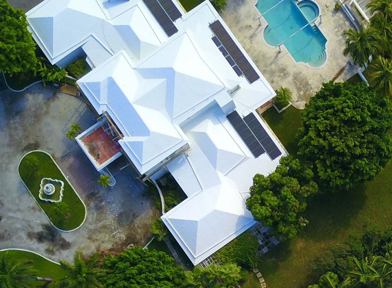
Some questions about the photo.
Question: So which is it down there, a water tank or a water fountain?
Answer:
water fountain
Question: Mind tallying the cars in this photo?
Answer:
0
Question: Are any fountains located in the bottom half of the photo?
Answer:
Yes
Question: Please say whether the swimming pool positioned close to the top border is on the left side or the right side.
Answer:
right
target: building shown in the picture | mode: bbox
[28,0,284,266]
